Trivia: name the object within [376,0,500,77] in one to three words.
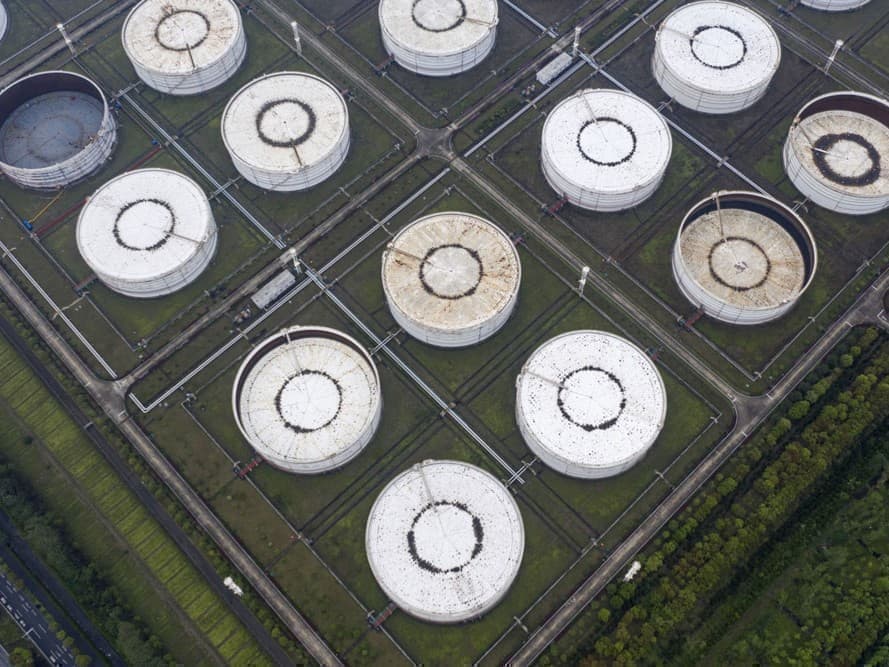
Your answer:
storage tank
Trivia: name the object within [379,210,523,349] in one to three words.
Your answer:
storage tank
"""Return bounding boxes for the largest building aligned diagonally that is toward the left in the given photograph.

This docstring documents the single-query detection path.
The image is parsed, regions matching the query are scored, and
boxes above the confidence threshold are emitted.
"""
[250,269,297,310]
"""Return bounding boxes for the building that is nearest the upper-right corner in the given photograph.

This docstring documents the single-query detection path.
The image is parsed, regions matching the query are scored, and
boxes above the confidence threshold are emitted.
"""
[535,51,575,87]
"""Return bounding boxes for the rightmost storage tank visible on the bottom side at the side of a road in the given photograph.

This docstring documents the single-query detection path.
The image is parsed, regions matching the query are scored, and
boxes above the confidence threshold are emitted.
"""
[512,327,668,481]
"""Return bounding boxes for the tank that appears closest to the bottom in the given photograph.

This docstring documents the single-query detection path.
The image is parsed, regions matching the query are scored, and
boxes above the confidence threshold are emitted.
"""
[364,457,527,626]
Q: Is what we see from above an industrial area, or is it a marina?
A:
industrial area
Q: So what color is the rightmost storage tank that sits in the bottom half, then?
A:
white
